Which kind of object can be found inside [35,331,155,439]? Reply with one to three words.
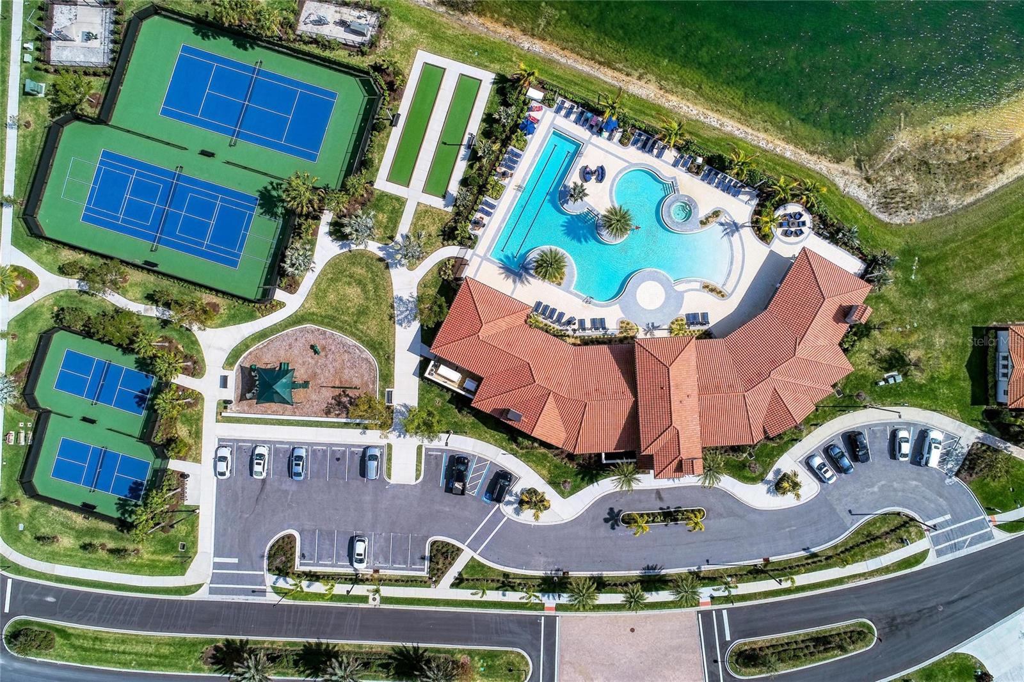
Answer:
sports court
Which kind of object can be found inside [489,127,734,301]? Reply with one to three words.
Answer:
swimming pool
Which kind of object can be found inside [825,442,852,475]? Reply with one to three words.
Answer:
car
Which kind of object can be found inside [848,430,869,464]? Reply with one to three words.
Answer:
car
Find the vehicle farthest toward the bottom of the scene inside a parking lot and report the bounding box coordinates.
[352,535,368,568]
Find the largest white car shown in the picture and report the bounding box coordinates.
[919,427,942,469]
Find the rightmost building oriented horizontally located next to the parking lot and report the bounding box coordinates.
[430,246,874,479]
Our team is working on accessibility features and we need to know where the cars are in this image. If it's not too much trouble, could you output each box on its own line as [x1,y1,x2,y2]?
[215,445,232,479]
[919,427,942,469]
[290,446,307,480]
[364,446,380,480]
[848,430,869,464]
[490,470,513,504]
[892,428,911,461]
[251,445,268,479]
[352,535,368,568]
[825,442,852,475]
[806,453,835,485]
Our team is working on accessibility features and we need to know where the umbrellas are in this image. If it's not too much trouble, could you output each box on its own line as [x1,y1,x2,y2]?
[519,120,536,137]
[602,117,618,133]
